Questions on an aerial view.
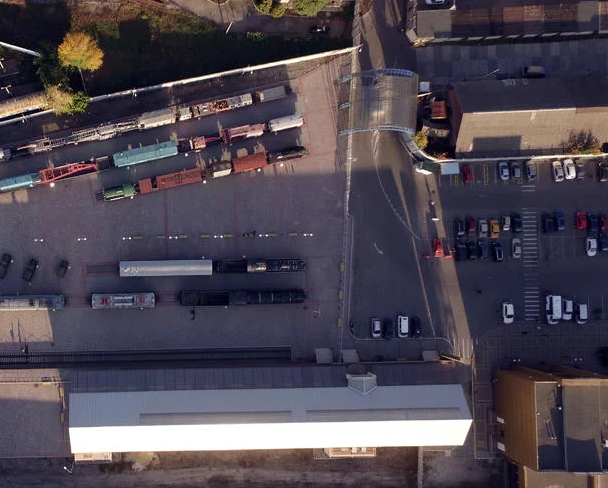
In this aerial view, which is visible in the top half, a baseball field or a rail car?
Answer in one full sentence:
You can see a rail car in the top half.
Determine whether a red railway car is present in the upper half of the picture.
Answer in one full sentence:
Yes, a red railway car is visible in the upper half of the picture.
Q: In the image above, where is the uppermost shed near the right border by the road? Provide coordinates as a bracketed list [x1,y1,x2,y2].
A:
[409,2,608,43]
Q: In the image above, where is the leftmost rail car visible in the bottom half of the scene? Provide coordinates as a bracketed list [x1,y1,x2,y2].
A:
[0,294,67,310]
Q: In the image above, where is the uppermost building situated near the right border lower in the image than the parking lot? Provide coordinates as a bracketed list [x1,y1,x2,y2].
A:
[494,366,608,473]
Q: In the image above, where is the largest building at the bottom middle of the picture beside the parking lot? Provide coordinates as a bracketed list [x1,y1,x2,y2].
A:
[66,359,469,463]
